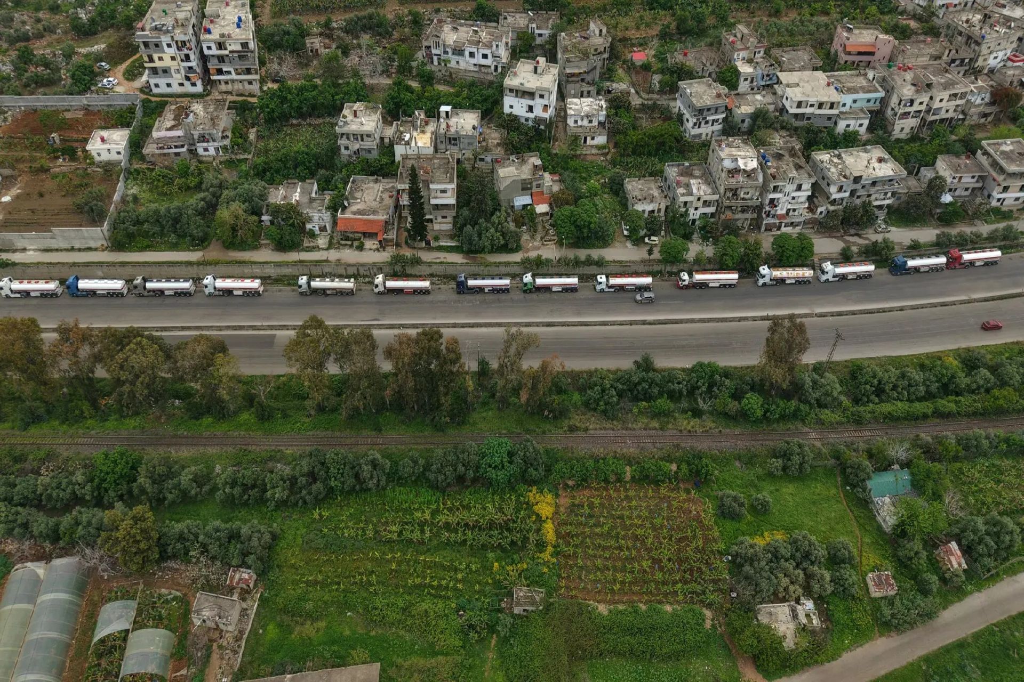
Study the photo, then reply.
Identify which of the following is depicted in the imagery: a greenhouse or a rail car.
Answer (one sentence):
It is a greenhouse that can be seen here.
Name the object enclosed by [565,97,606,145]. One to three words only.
house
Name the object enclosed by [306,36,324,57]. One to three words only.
shed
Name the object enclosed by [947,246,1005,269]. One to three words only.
truck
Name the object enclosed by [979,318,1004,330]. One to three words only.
vehicle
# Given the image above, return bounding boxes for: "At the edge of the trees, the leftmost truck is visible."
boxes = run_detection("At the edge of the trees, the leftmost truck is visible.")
[0,275,62,297]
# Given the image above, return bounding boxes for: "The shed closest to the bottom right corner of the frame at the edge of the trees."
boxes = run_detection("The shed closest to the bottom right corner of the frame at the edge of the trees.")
[933,542,967,578]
